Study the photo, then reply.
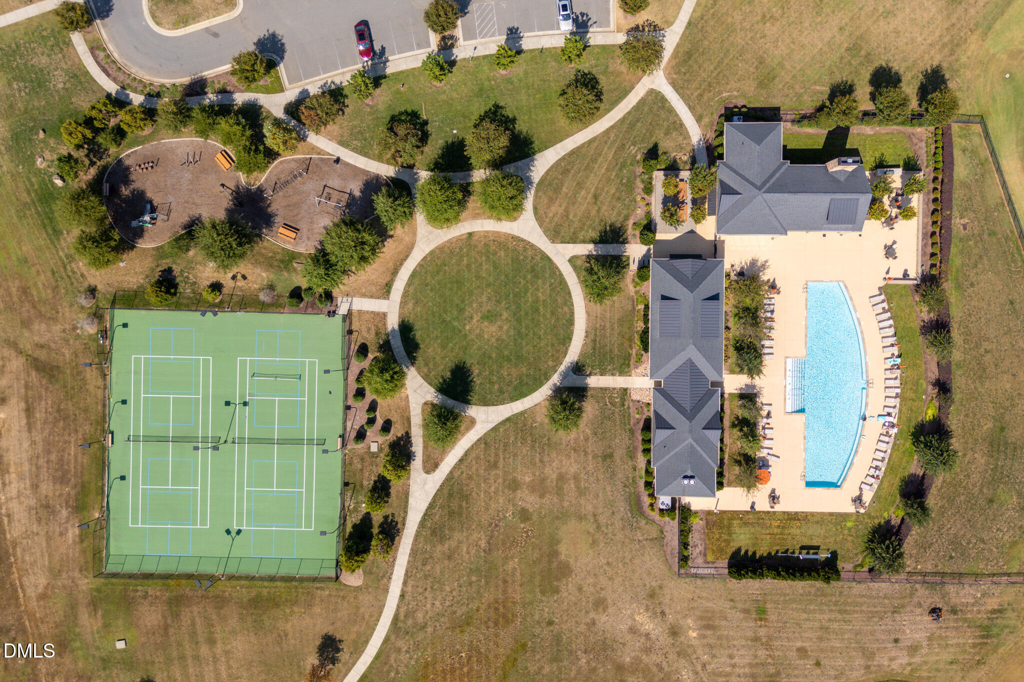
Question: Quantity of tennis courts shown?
2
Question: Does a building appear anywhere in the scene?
Yes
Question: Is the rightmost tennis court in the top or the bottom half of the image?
bottom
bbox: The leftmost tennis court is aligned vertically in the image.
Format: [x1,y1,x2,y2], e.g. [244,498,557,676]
[105,310,226,574]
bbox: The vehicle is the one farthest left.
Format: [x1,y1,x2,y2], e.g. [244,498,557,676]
[354,23,372,60]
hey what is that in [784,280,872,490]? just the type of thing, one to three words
swimming pool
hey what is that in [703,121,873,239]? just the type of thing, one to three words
building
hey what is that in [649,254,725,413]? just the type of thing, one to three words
building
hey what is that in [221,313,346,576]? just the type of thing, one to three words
tennis court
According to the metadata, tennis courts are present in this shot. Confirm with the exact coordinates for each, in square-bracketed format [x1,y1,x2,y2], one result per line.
[221,313,346,576]
[105,310,226,574]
